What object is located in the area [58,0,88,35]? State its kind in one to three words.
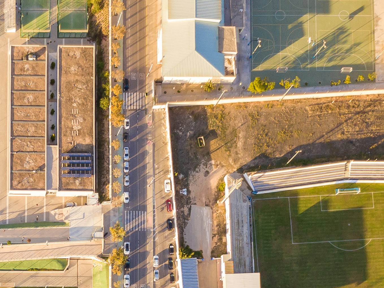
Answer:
sports court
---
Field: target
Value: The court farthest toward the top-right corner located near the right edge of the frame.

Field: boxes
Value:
[249,0,375,88]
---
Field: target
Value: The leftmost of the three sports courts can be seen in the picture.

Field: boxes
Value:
[22,0,51,35]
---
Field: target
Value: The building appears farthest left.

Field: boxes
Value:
[9,45,46,195]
